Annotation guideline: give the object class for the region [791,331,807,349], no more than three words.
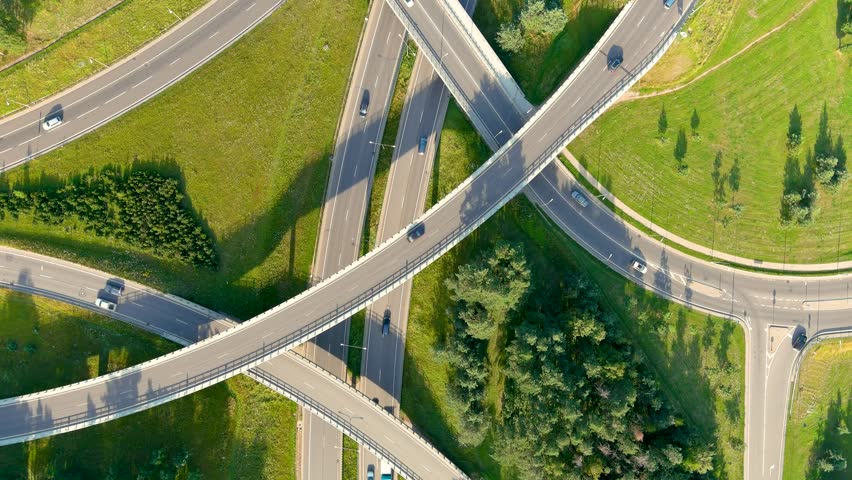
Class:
car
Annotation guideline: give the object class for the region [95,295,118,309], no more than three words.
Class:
vehicle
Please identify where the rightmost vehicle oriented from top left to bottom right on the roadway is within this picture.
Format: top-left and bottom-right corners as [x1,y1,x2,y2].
[630,260,647,275]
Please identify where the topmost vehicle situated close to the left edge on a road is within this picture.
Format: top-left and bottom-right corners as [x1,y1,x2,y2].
[42,117,63,131]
